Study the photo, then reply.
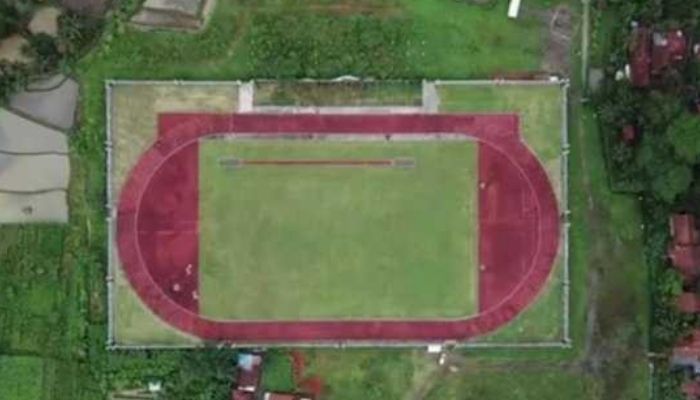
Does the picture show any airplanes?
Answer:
No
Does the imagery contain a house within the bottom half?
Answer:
Yes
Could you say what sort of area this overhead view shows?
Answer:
sports ground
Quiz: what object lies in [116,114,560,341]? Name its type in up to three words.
running track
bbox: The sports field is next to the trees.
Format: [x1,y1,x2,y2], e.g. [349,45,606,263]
[200,138,479,317]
